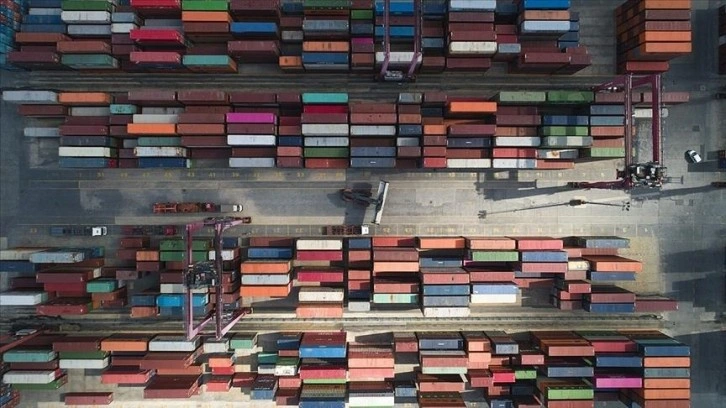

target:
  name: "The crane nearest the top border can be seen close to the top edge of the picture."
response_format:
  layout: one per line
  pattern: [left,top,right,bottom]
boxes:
[374,0,425,82]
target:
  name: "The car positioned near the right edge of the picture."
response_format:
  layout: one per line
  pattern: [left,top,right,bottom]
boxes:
[690,150,703,164]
